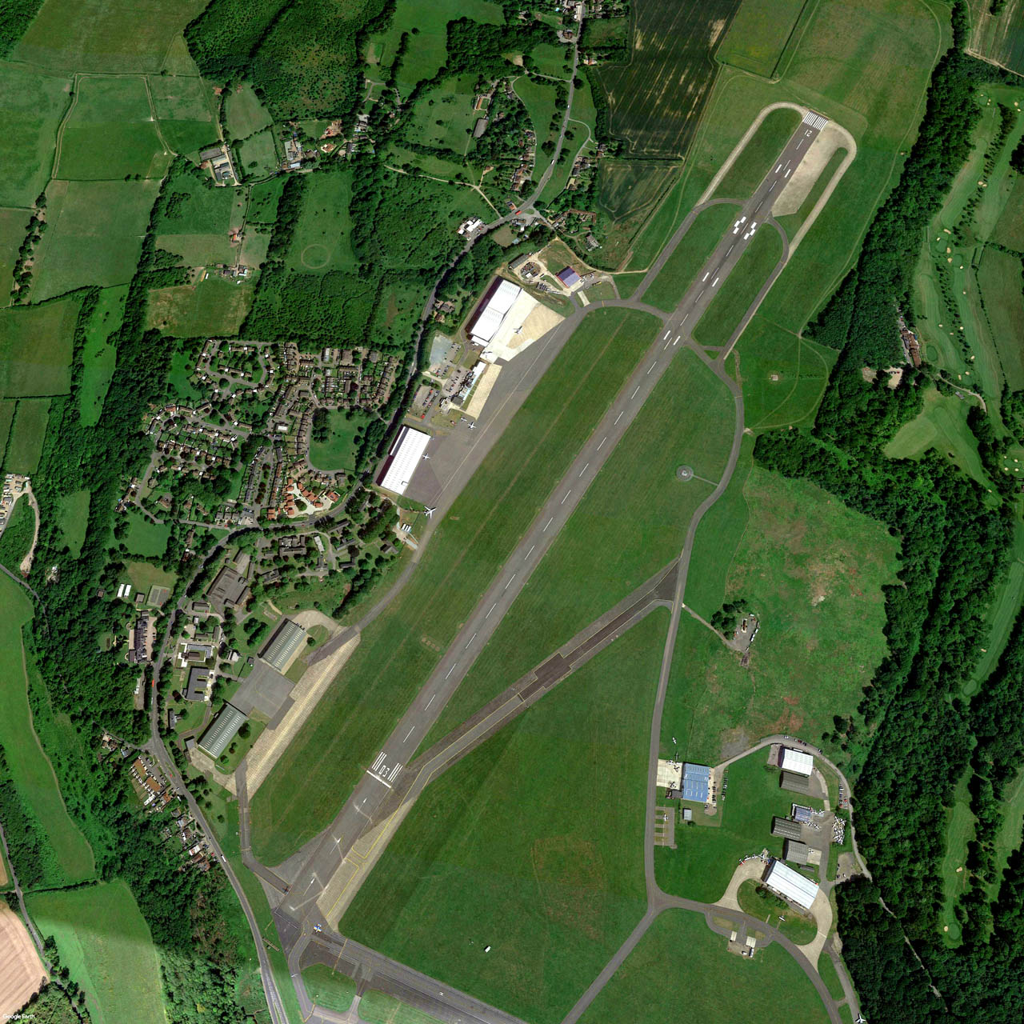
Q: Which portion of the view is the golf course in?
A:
right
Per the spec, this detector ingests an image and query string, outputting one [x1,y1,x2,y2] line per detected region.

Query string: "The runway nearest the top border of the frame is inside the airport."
[275,109,830,928]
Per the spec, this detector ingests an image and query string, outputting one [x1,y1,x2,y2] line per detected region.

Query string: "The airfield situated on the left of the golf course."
[190,71,912,1024]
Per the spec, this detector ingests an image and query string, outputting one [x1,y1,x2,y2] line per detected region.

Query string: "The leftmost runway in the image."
[272,904,535,1024]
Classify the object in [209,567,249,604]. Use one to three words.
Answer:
building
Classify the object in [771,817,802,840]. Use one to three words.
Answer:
hangar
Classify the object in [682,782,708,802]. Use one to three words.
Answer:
hangar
